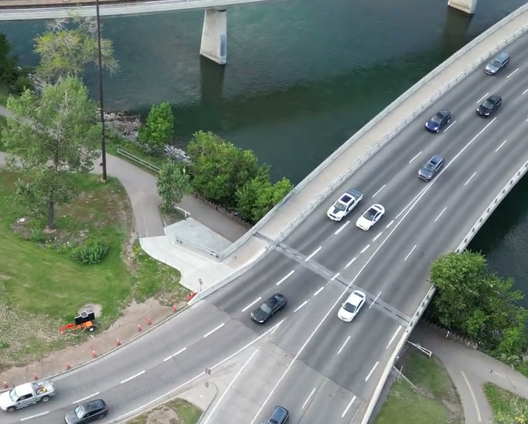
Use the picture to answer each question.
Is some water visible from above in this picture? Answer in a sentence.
Yes, the picture does contain water.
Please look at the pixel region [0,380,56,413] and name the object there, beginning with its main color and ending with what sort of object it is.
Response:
white truck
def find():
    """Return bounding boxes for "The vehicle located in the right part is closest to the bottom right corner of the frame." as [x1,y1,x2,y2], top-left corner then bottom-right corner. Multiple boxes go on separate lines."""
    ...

[336,291,367,325]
